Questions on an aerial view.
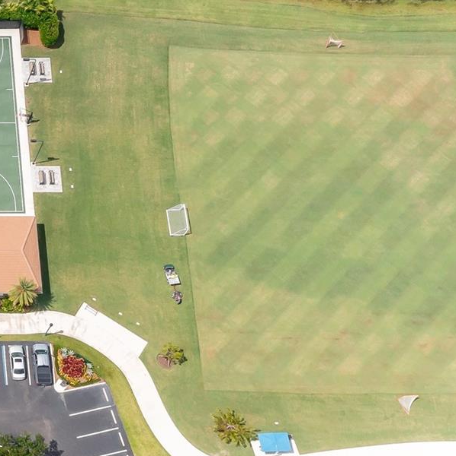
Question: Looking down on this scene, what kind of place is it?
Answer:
sports ground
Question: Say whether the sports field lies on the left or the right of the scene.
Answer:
right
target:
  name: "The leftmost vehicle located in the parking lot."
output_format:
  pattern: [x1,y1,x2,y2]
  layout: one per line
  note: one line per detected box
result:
[10,348,25,382]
